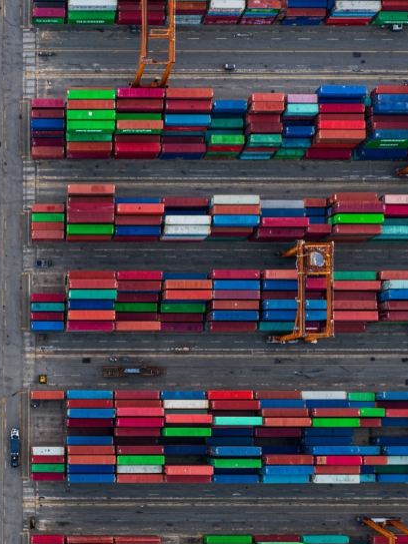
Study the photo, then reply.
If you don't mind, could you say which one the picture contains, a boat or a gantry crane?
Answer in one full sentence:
This aerial view contains a gantry crane.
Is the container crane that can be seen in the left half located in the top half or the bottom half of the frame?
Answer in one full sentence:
The top half of the photo is where the container crane that can be seen in the left half is.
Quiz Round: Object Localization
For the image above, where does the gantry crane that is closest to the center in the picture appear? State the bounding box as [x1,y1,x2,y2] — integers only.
[271,240,337,340]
